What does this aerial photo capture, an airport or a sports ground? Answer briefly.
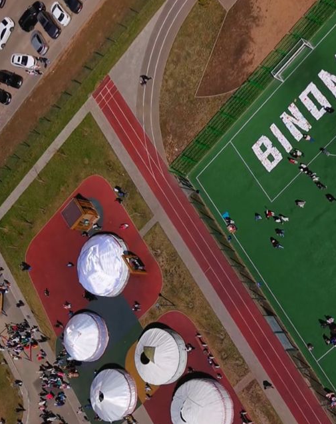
sports ground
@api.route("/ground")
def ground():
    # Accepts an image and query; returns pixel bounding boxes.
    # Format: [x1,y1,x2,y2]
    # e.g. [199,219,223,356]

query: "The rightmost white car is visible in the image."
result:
[50,0,72,28]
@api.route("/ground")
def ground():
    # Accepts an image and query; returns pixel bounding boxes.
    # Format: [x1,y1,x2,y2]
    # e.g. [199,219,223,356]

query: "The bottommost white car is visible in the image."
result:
[11,53,35,70]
